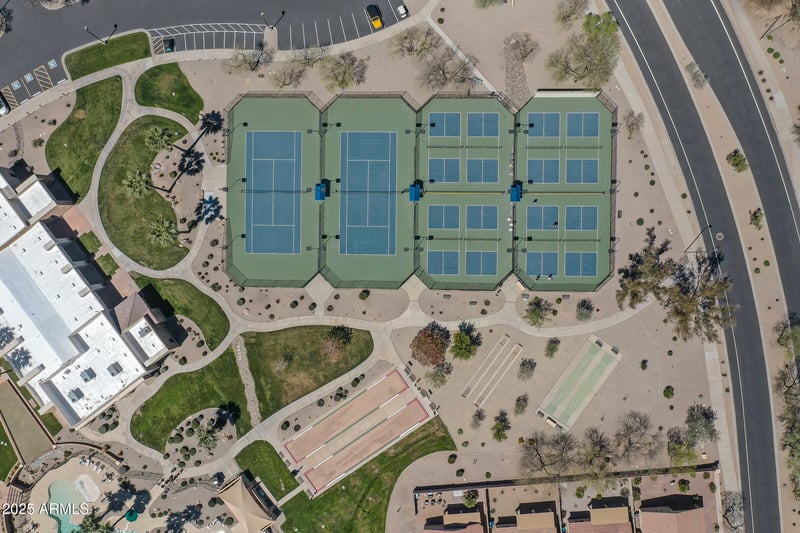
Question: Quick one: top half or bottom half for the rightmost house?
bottom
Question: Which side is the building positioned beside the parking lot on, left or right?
left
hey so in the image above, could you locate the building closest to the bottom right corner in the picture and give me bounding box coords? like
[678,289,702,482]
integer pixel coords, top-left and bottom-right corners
[638,503,703,533]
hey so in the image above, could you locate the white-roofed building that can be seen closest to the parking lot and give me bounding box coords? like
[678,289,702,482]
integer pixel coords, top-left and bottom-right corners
[0,153,177,426]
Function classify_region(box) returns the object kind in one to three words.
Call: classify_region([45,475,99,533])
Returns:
swimming pool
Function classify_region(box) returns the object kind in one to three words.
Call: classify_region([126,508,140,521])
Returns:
umbrella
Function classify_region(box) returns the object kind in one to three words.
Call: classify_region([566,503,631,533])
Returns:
house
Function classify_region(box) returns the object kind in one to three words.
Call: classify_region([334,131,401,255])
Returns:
tennis court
